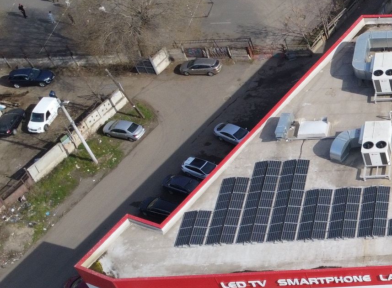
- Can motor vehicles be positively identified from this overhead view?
Yes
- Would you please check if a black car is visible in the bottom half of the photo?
Yes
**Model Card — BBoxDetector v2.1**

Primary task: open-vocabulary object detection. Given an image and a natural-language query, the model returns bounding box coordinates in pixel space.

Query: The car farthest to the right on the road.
[214,123,254,143]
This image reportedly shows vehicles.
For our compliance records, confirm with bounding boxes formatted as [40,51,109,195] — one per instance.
[181,156,221,179]
[27,94,65,129]
[63,275,89,288]
[103,119,146,141]
[180,56,222,75]
[137,198,181,223]
[0,108,31,138]
[162,174,204,198]
[8,66,52,87]
[214,123,254,143]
